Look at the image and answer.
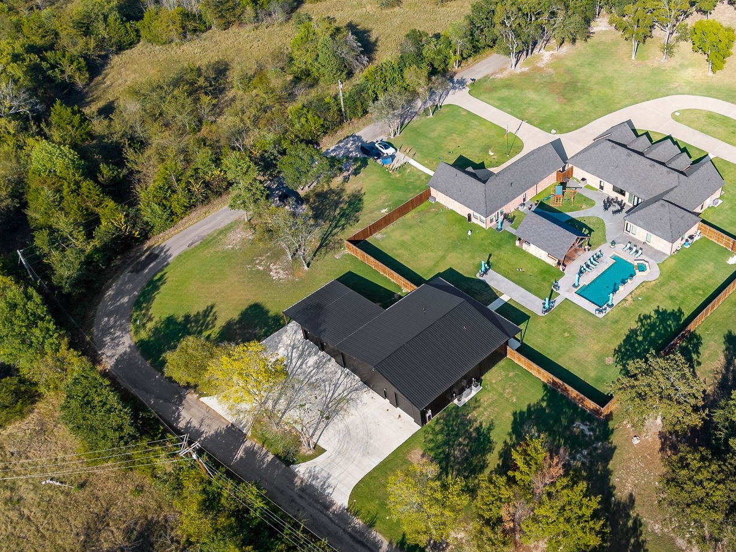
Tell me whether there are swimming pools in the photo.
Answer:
Yes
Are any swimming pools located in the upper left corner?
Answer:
No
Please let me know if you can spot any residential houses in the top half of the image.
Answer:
Yes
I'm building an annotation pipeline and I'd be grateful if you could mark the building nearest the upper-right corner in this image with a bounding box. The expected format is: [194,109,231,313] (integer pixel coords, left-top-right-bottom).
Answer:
[567,123,728,255]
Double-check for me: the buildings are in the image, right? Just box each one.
[515,211,591,270]
[567,123,728,255]
[282,278,526,428]
[427,143,566,230]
